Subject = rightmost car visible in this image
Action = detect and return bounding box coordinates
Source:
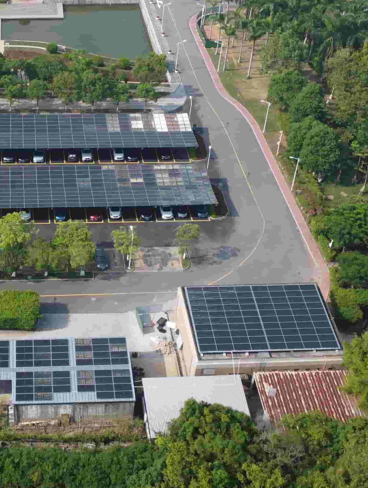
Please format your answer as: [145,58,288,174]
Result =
[192,205,207,219]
